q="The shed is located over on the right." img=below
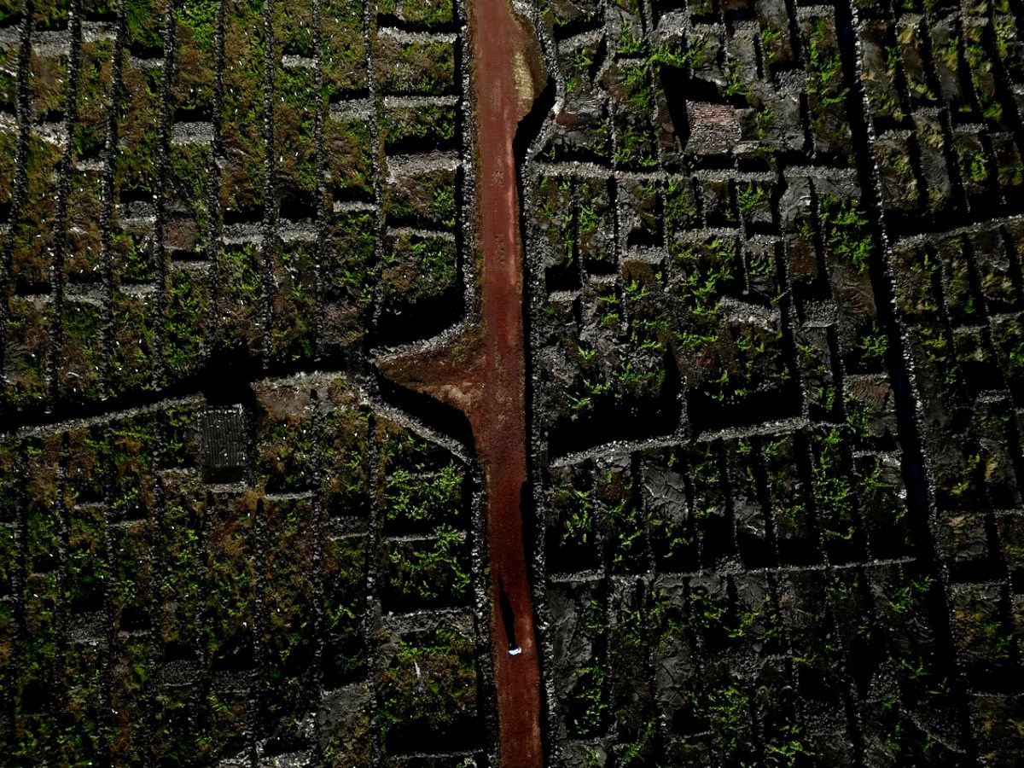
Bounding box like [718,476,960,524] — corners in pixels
[670,98,759,158]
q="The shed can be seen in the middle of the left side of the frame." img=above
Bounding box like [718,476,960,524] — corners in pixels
[198,401,264,492]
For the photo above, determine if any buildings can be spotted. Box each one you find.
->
[670,98,759,158]
[198,401,264,492]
